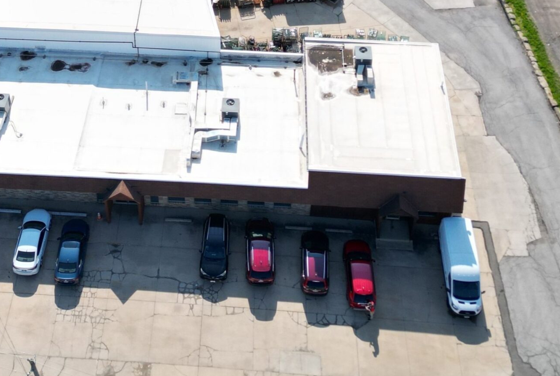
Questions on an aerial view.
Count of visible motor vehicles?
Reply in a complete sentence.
Looking from above, you can make out 7 motor vehicles.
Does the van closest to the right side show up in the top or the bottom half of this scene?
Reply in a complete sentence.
Seen from above, the van closest to the right side lies in the bottom half of the view.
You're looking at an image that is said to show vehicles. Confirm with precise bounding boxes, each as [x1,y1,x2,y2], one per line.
[11,209,51,278]
[242,218,278,288]
[434,217,486,317]
[341,240,377,313]
[297,229,333,300]
[52,217,89,289]
[196,214,232,285]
